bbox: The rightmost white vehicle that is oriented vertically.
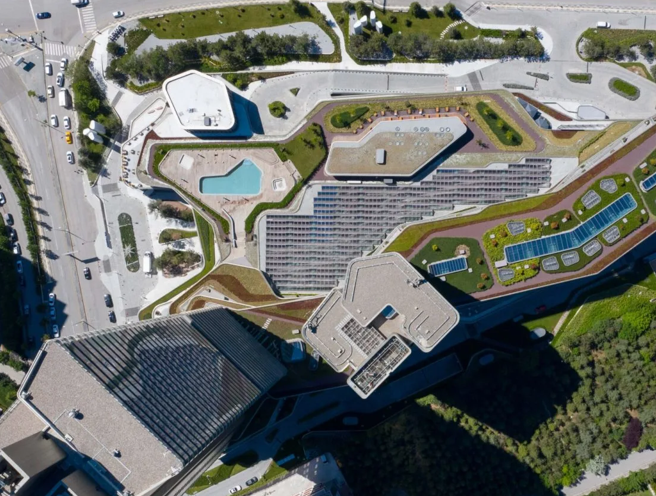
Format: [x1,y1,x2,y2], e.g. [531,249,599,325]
[141,254,154,279]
